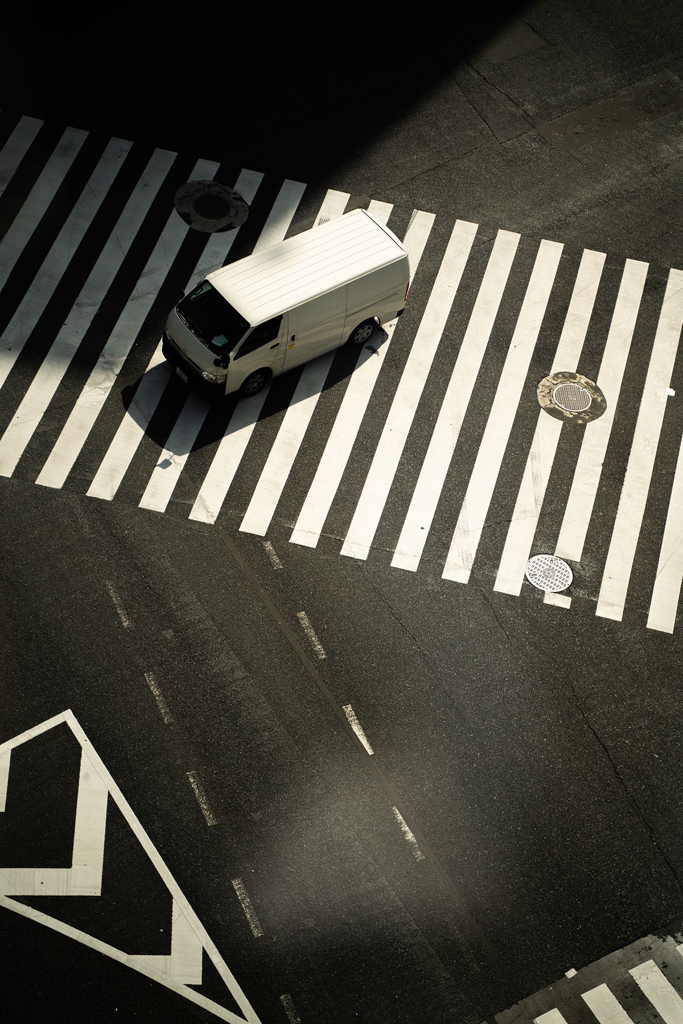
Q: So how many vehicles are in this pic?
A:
1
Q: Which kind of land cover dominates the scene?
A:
paved ground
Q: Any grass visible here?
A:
No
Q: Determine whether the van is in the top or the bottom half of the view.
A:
top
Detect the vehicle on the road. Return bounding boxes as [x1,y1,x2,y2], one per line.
[164,210,408,398]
